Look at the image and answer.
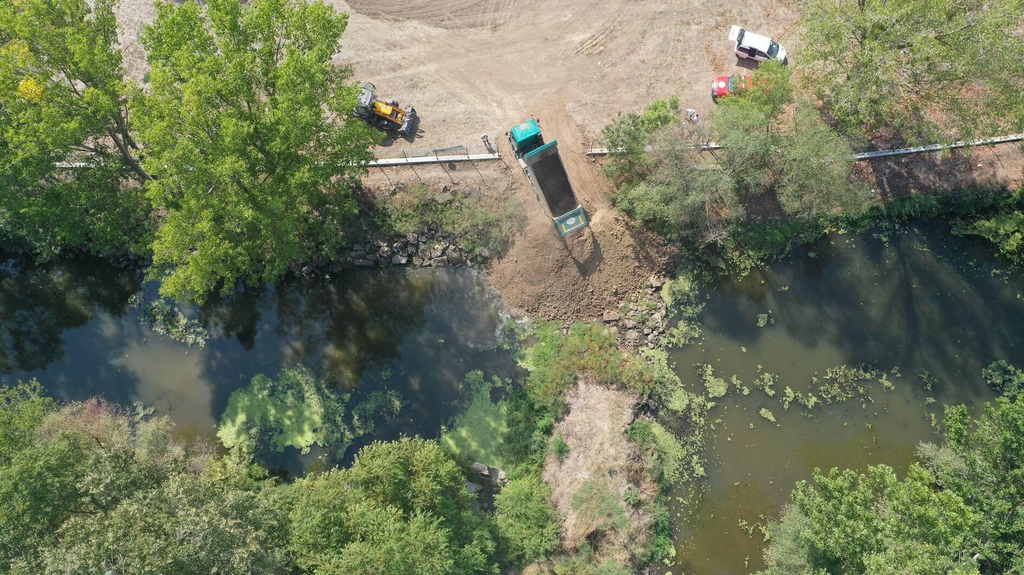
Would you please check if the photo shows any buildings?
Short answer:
No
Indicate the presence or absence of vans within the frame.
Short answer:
Yes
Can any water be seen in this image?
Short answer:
Yes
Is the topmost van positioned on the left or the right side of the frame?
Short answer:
right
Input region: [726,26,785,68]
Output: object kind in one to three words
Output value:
van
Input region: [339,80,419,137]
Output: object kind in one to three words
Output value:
work vehicle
